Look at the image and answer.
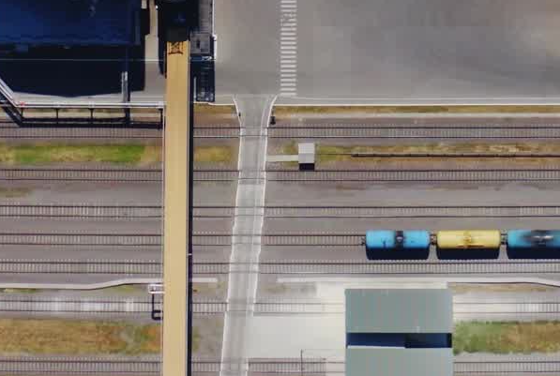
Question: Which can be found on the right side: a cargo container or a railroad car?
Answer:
railroad car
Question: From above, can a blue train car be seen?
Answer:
Yes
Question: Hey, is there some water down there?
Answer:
No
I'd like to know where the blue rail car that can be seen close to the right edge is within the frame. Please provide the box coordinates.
[503,231,560,249]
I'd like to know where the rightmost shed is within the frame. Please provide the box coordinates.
[299,143,315,164]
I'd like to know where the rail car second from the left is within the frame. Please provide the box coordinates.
[432,231,504,249]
